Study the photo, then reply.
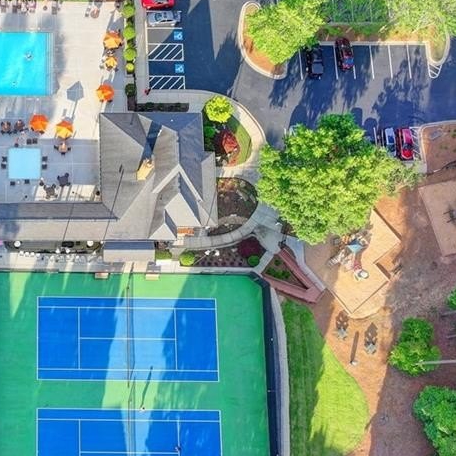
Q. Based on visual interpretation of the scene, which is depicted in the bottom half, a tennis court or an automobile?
tennis court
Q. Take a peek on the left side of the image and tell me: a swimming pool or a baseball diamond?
swimming pool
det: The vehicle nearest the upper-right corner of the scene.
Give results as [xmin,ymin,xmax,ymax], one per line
[334,39,354,71]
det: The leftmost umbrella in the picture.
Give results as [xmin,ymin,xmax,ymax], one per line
[31,115,48,132]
